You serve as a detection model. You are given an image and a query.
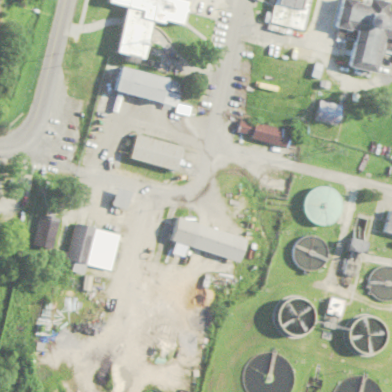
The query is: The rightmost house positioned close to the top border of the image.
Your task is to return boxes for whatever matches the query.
[337,0,392,72]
